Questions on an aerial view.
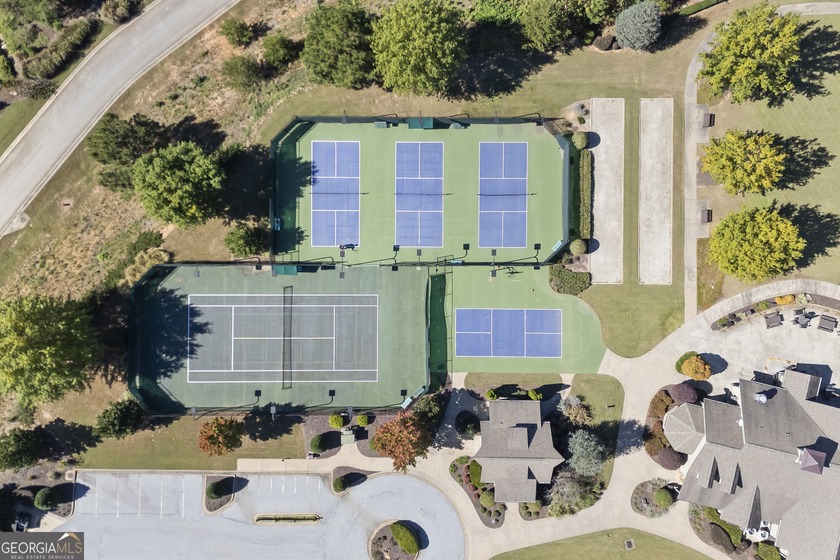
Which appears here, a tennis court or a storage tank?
tennis court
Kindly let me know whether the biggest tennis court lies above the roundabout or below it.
above it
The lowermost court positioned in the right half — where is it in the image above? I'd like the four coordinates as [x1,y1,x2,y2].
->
[456,308,562,357]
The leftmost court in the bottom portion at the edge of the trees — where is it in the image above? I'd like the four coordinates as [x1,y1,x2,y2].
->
[139,265,428,411]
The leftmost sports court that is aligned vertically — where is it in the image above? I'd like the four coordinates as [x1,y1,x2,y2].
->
[312,141,360,247]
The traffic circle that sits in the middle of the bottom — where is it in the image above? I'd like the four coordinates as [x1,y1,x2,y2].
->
[368,518,423,560]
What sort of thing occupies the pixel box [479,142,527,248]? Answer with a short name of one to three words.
sports court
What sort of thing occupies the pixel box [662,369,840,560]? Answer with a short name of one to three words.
house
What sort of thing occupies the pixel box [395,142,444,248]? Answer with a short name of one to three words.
sports court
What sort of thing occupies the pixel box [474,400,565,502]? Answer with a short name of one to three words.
building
